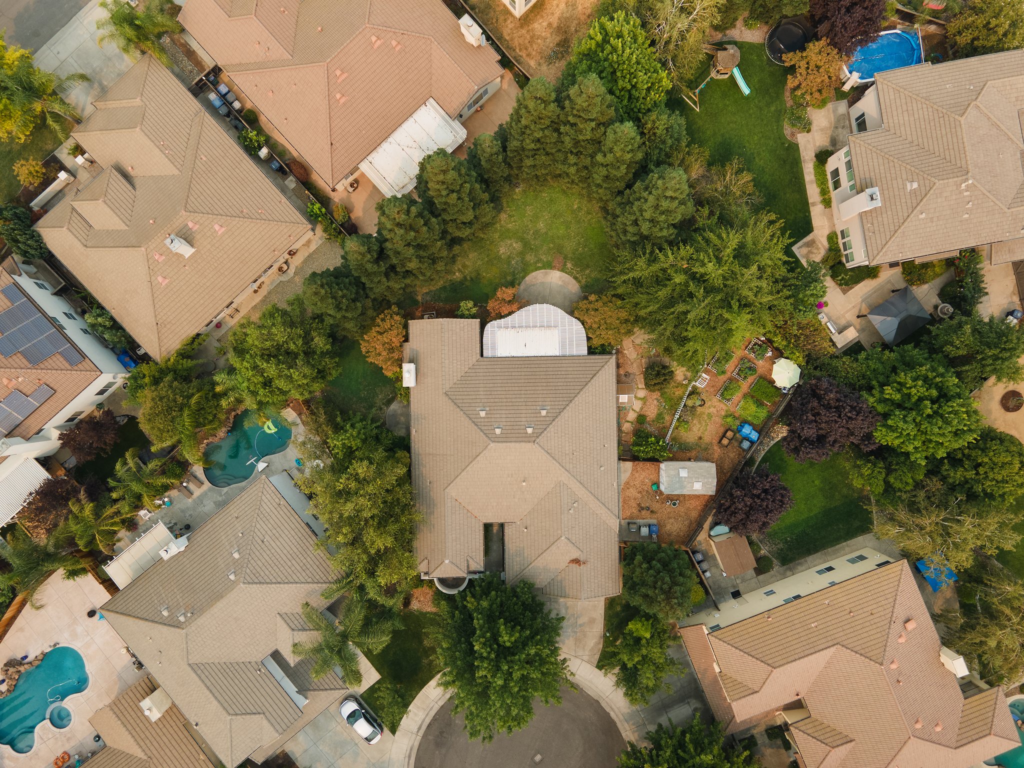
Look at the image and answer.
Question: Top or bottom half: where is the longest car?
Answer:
bottom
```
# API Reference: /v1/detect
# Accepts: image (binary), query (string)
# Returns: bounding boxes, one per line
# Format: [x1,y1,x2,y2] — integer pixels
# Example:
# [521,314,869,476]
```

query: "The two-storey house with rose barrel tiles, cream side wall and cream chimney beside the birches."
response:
[676,549,1023,768]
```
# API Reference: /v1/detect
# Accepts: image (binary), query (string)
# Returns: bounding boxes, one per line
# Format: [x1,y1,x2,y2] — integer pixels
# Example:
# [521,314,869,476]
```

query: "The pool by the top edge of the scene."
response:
[839,28,922,90]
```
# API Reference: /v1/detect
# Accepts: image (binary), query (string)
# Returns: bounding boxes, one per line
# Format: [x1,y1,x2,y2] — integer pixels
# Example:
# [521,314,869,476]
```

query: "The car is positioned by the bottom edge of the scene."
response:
[340,691,385,750]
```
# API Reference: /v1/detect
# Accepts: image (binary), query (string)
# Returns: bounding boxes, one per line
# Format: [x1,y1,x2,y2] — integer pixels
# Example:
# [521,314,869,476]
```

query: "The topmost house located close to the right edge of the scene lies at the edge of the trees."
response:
[822,42,1024,271]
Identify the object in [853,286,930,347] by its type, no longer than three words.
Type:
gazebo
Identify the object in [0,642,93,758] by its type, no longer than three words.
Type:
swimming pool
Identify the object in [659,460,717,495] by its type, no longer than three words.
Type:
shed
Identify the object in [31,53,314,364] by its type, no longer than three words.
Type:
house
